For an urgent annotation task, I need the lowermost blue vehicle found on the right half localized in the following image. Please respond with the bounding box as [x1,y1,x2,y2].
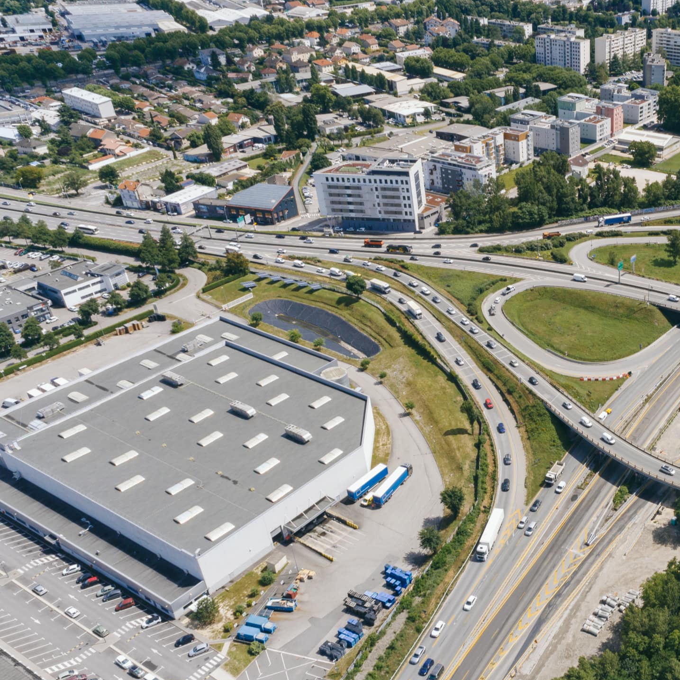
[419,659,434,675]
